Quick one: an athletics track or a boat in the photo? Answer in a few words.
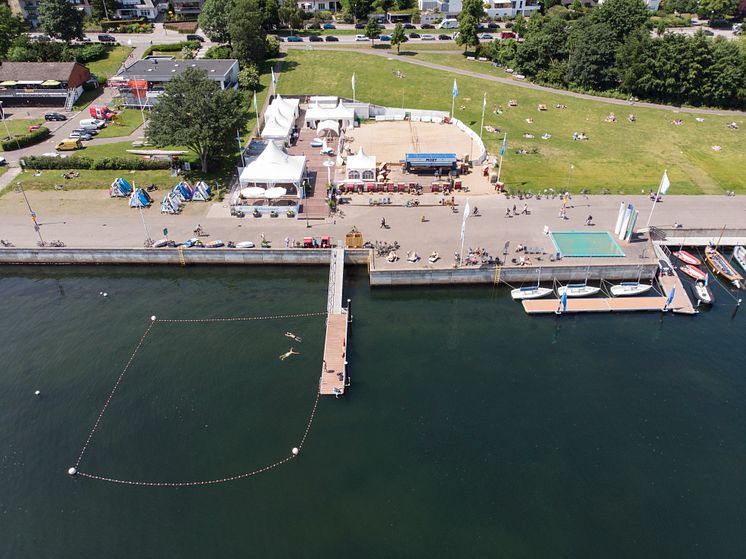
boat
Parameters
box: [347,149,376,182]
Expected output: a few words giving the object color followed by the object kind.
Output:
white tent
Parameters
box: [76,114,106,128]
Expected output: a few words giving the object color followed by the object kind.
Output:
white vehicle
